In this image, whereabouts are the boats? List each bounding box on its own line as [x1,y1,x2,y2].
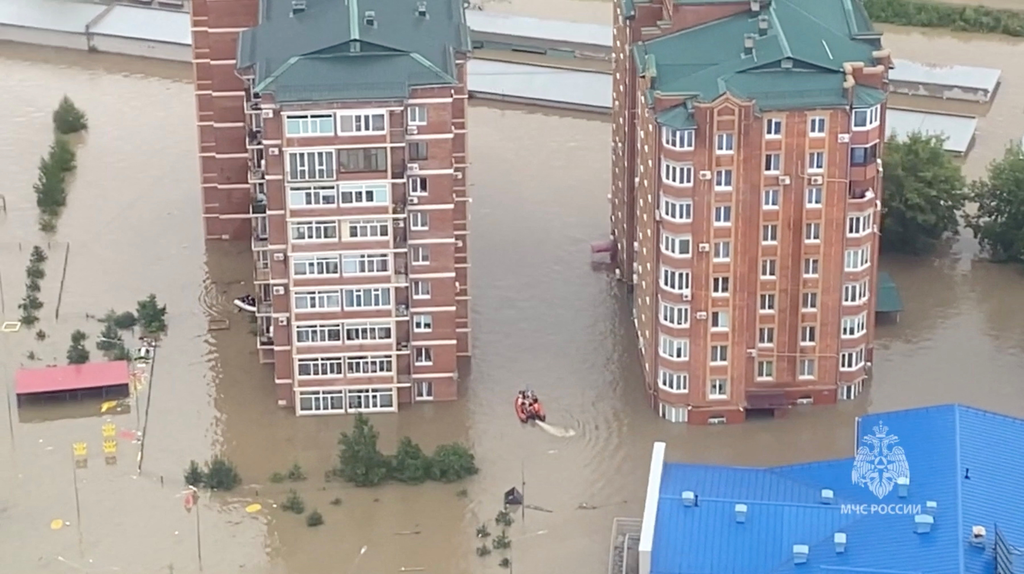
[516,387,548,424]
[235,294,257,317]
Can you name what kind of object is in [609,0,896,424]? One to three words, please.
building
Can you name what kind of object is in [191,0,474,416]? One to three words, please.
building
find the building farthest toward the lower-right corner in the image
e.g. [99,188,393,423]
[639,401,1024,574]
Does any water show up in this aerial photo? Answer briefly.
Yes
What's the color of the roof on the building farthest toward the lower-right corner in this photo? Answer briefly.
blue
